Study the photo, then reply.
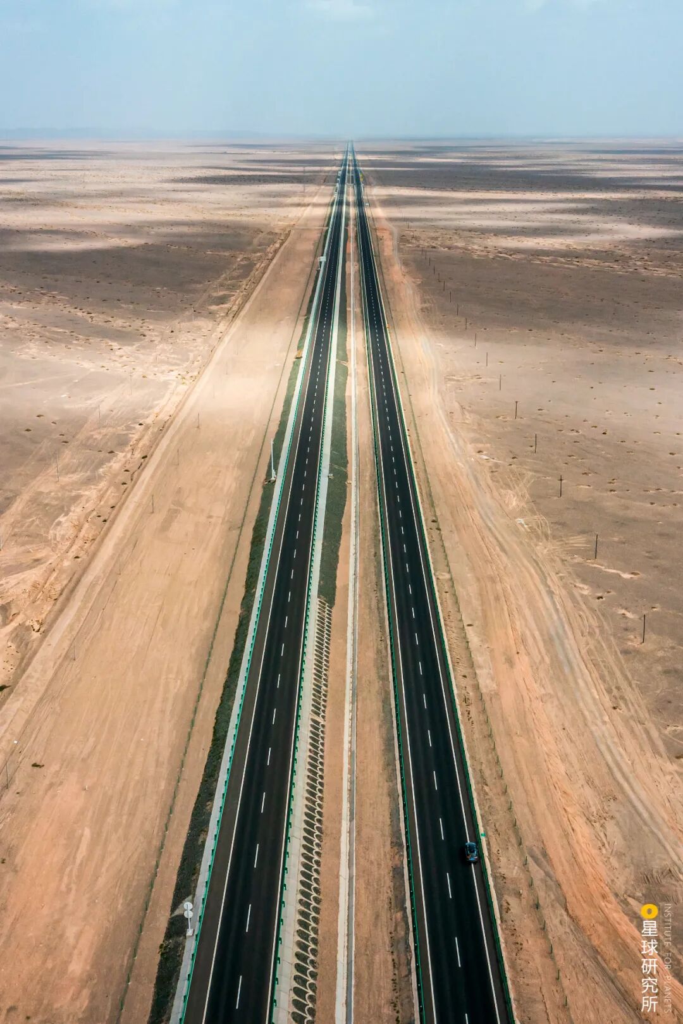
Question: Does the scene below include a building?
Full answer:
No, the scene contains no building.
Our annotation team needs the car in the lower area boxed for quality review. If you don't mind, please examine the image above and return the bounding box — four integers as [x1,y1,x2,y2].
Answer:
[462,841,478,863]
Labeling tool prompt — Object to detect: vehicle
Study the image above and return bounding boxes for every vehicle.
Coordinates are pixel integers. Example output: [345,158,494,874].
[296,351,306,359]
[462,841,478,863]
